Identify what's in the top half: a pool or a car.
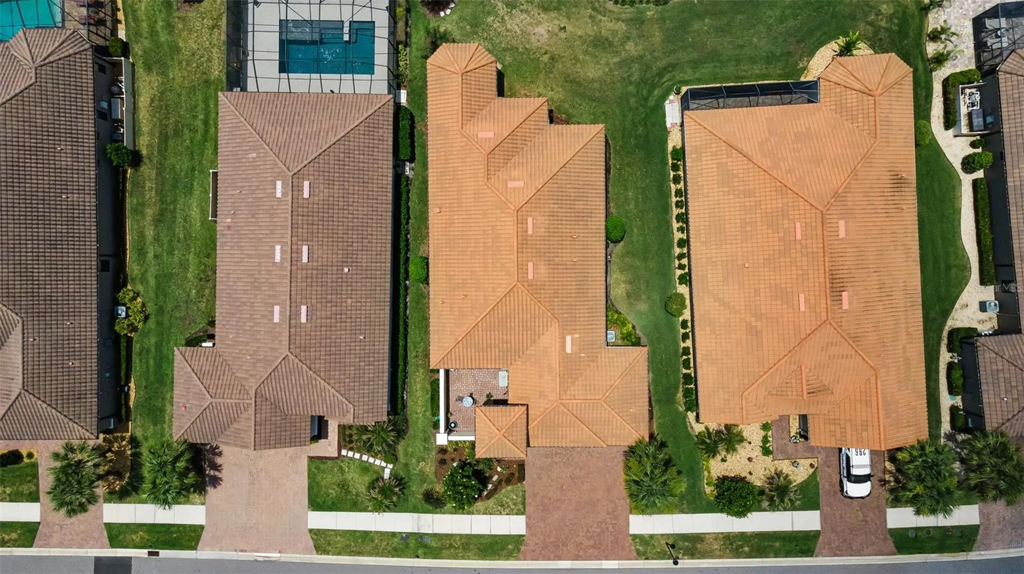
pool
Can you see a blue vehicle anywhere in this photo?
No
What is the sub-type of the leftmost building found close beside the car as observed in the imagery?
residential house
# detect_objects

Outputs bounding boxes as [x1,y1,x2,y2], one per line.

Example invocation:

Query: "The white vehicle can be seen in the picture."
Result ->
[836,448,874,501]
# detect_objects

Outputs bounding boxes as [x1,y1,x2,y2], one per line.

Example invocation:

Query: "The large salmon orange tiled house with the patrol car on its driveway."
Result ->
[682,51,929,451]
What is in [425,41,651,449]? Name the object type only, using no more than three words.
house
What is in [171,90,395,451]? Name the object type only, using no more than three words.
house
